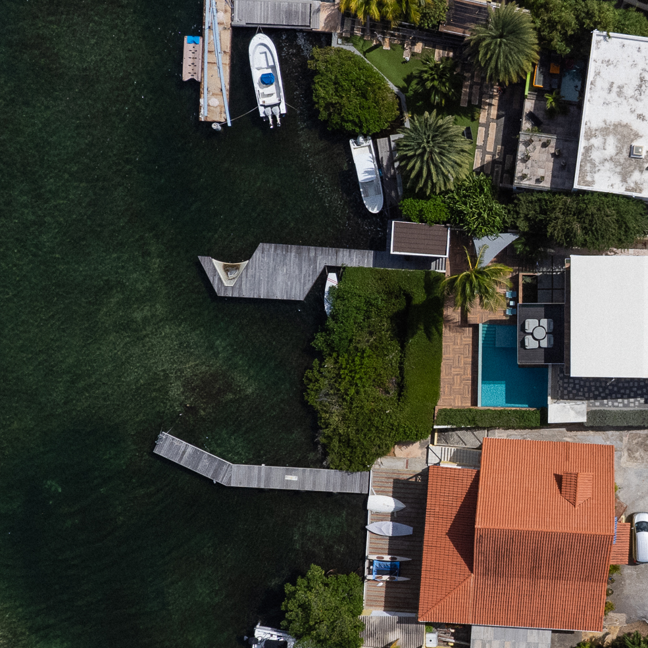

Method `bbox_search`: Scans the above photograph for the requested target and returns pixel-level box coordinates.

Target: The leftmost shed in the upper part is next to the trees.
[389,220,451,259]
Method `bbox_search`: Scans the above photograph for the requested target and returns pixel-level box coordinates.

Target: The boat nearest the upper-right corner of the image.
[348,127,381,212]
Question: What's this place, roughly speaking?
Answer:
residential area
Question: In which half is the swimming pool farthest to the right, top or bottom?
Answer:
top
